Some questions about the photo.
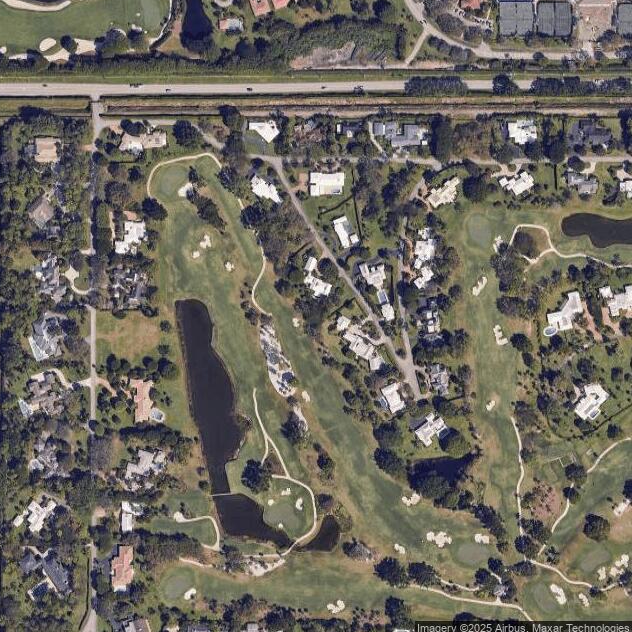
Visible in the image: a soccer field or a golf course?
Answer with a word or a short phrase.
golf course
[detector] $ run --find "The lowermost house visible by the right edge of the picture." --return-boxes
[574,381,611,419]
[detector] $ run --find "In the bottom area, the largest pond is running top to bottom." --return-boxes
[176,300,293,547]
